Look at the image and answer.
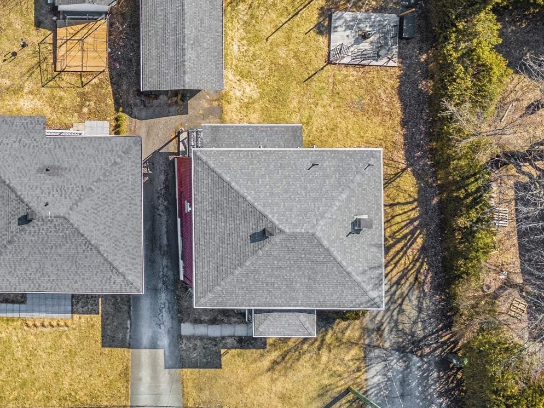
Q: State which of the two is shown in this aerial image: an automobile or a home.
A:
home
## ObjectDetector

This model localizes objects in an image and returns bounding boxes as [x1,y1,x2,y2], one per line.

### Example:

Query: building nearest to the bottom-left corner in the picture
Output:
[0,116,145,293]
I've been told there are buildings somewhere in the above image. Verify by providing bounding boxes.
[0,116,145,293]
[55,0,116,11]
[138,0,225,90]
[172,124,386,338]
